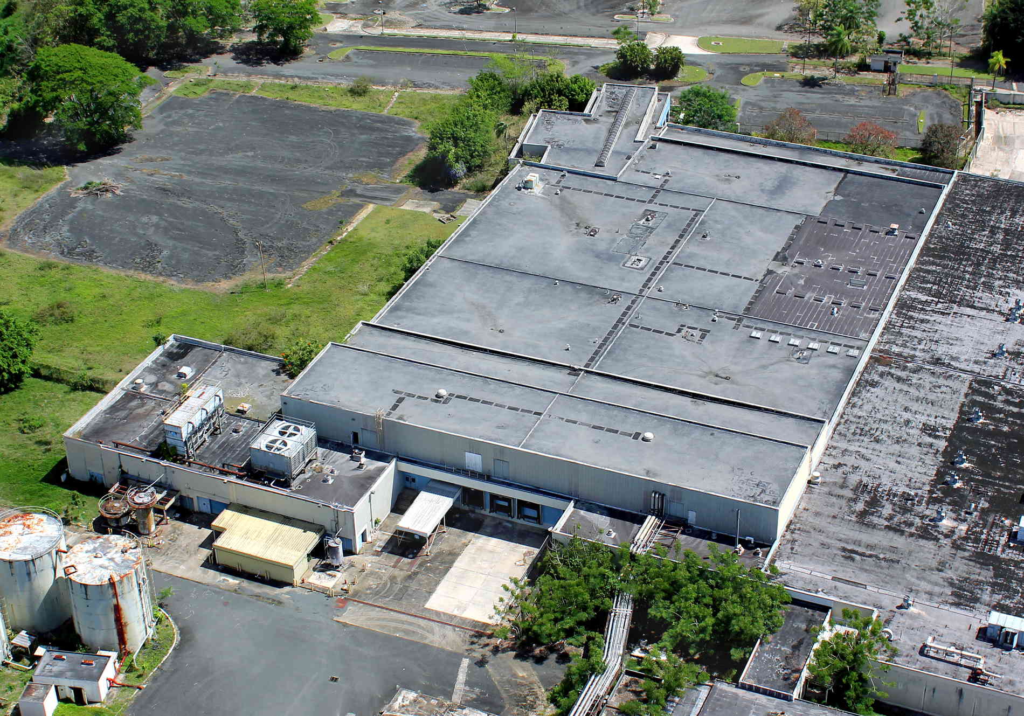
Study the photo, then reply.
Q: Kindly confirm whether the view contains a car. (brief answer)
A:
No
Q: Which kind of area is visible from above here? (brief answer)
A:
industrial area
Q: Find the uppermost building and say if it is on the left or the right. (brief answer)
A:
right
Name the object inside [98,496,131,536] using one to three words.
storage tank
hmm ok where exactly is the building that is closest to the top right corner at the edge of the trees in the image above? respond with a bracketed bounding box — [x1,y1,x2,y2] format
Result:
[867,45,908,73]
